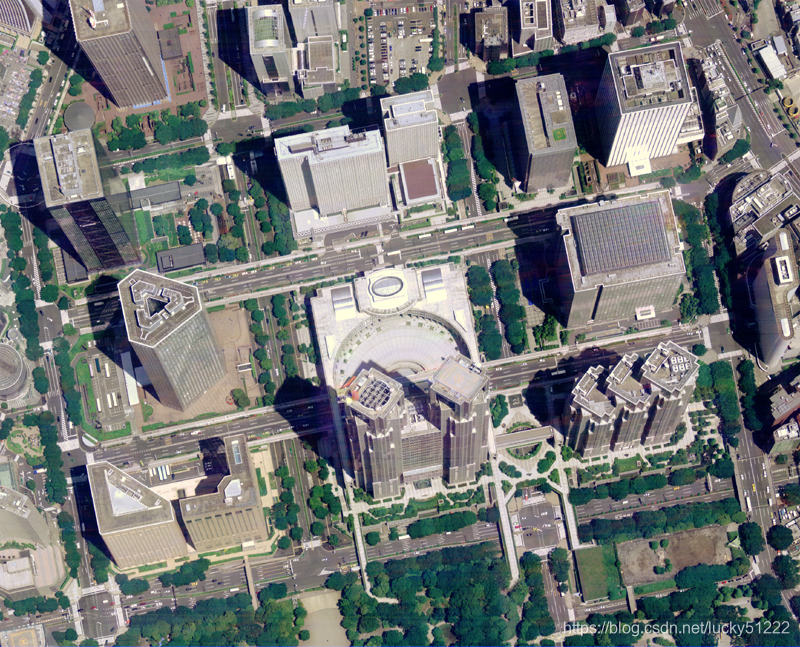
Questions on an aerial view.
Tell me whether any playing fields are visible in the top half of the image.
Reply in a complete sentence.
No, I see no playing field in the top half of the image.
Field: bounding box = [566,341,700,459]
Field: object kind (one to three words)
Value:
building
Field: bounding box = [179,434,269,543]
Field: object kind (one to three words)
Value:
building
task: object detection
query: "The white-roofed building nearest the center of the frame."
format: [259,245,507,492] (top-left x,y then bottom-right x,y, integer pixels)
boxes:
[310,264,479,391]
